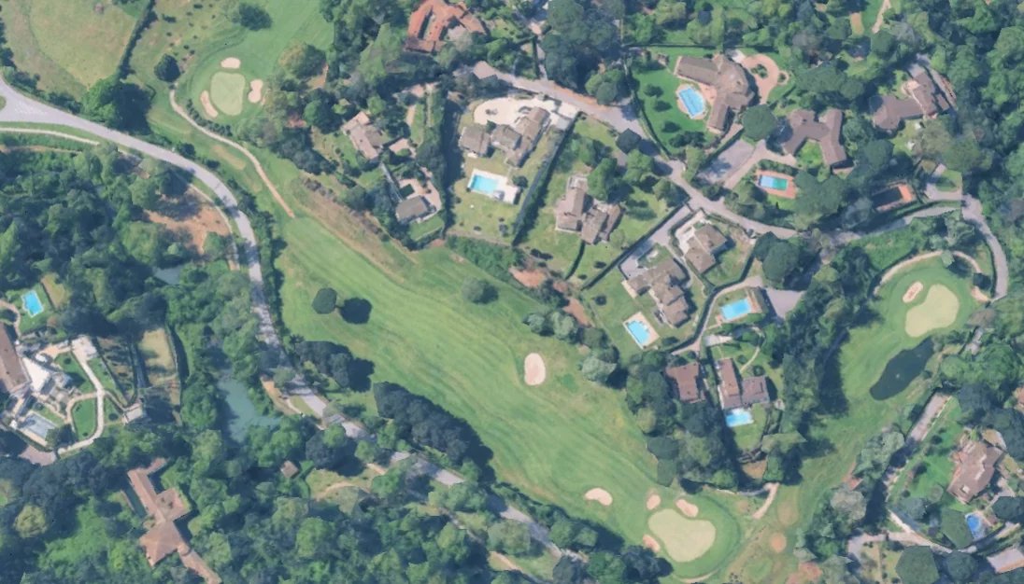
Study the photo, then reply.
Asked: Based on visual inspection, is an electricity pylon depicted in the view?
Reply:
No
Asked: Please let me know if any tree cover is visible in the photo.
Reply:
Yes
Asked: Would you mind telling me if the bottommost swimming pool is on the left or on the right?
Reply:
right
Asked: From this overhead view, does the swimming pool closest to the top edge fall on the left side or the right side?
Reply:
right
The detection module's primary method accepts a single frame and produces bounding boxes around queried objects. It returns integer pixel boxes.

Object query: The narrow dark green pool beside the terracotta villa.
[123,482,149,518]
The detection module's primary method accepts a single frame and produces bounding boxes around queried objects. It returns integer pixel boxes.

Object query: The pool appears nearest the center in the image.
[467,169,519,204]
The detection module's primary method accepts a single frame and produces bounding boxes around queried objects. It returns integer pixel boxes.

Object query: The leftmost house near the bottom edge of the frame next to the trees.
[129,460,222,584]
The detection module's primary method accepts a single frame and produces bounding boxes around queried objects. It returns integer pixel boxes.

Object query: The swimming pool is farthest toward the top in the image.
[676,84,708,119]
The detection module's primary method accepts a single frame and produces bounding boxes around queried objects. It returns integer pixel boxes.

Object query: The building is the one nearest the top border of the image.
[405,0,486,53]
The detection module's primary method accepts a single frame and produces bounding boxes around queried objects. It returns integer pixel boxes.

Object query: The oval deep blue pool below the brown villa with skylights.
[965,511,996,540]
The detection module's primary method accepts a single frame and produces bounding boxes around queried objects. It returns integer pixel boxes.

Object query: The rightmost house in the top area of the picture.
[873,65,949,131]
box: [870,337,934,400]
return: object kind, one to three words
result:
pond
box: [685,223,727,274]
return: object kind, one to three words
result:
house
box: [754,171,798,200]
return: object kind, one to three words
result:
swimming pool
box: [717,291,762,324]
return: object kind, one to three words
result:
swimming pool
